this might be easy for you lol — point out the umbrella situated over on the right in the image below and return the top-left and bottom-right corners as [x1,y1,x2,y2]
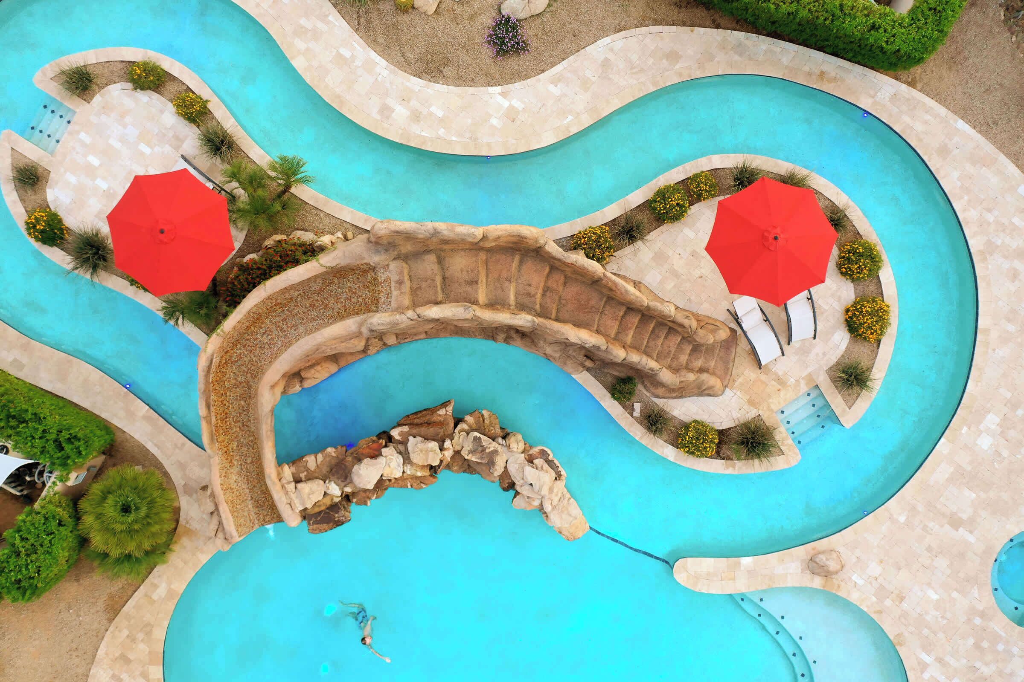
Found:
[705,175,837,308]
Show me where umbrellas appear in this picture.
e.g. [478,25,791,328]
[106,168,236,297]
[705,175,837,308]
